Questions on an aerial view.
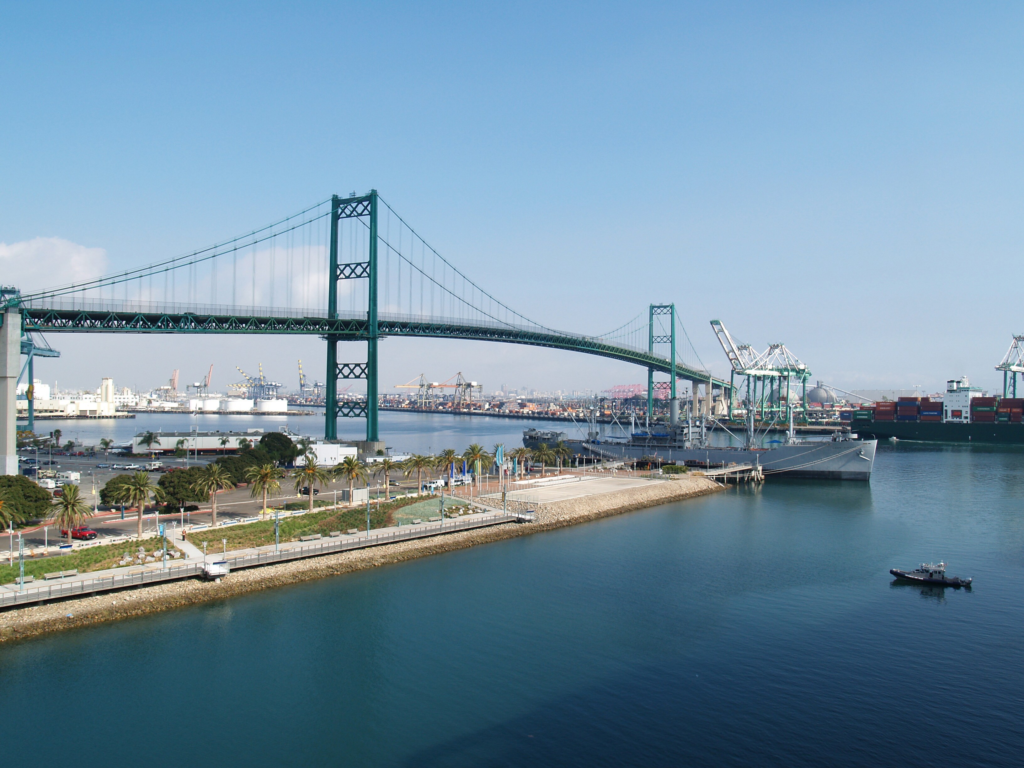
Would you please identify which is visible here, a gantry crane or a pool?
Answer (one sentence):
It is a gantry crane that can be seen here.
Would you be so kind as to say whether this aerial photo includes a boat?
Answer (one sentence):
Yes, there's a boat down there.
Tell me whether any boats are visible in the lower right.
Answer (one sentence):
Yes, in the lower right there is a boat.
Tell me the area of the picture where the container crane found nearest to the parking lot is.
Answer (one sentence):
Look in the left portion of the view to spot the container crane found nearest to the parking lot.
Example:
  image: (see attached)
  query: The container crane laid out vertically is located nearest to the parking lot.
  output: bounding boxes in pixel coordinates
[0,279,57,436]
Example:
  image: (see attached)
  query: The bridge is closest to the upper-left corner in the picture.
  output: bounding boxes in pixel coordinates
[0,187,763,481]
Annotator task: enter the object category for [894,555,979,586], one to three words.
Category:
boat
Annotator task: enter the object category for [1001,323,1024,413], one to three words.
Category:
container crane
